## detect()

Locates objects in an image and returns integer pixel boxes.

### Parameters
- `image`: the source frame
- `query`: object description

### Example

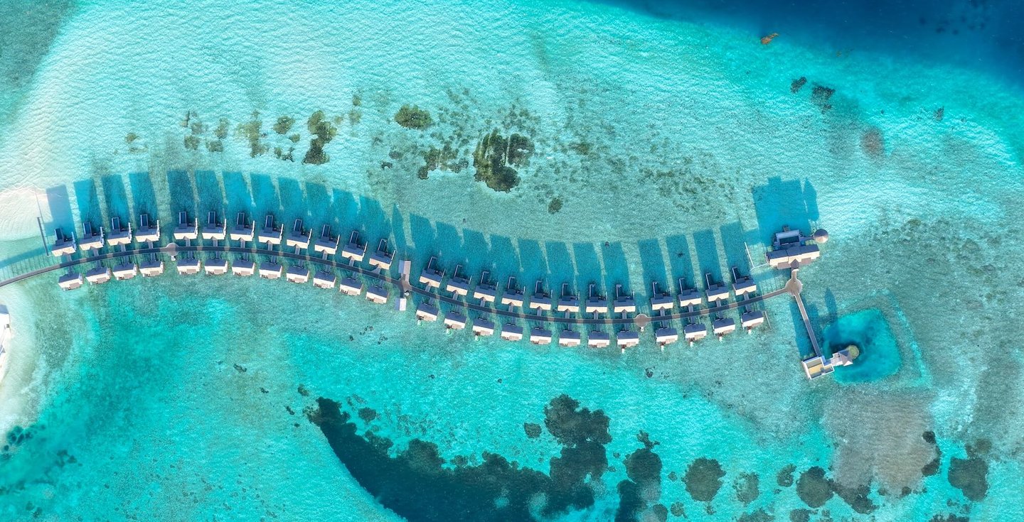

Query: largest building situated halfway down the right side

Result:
[762,226,819,270]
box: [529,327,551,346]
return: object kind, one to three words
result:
house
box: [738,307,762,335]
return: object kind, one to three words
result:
house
